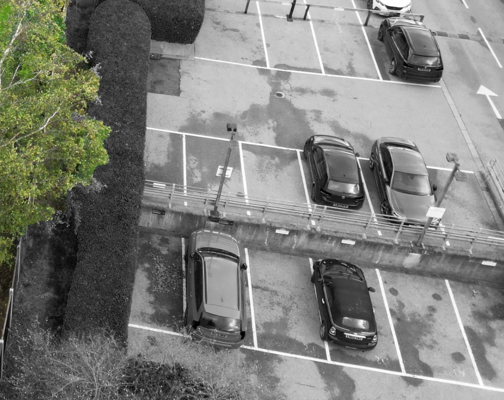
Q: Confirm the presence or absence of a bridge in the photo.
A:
No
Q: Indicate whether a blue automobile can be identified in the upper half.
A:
No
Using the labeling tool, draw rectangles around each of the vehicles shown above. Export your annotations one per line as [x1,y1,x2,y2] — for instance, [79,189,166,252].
[381,15,450,77]
[304,129,374,209]
[369,0,413,11]
[367,130,447,232]
[312,251,387,347]
[189,230,256,347]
